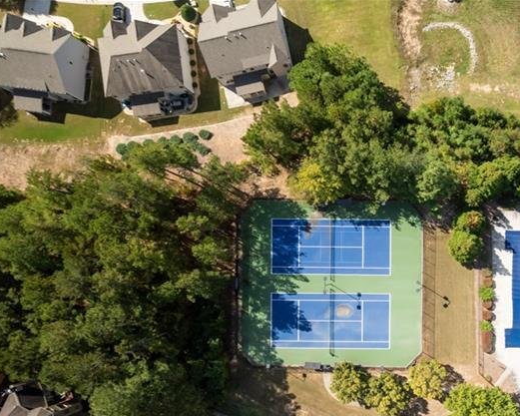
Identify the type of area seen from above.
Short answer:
residential area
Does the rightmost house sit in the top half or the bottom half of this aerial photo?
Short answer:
top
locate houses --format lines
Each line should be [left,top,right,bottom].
[0,0,88,117]
[196,0,296,100]
[98,16,194,120]
[0,374,89,416]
